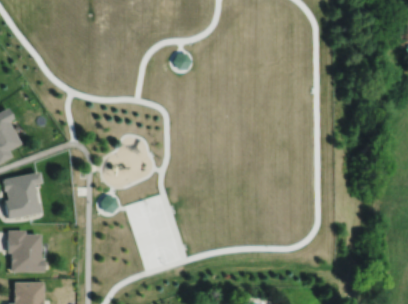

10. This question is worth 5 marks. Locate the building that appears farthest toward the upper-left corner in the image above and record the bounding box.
[0,108,22,158]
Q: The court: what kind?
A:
basketball court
